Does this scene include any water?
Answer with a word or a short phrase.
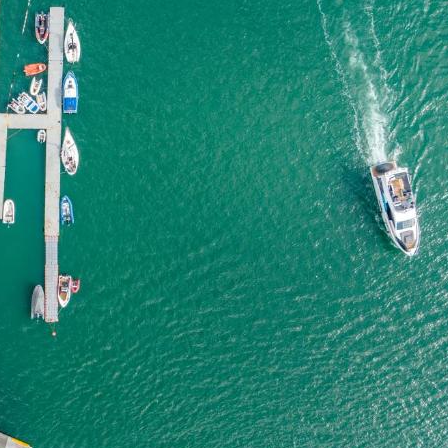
Yes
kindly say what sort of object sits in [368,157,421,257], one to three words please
boat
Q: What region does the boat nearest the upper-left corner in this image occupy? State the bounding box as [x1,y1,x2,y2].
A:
[34,10,49,43]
